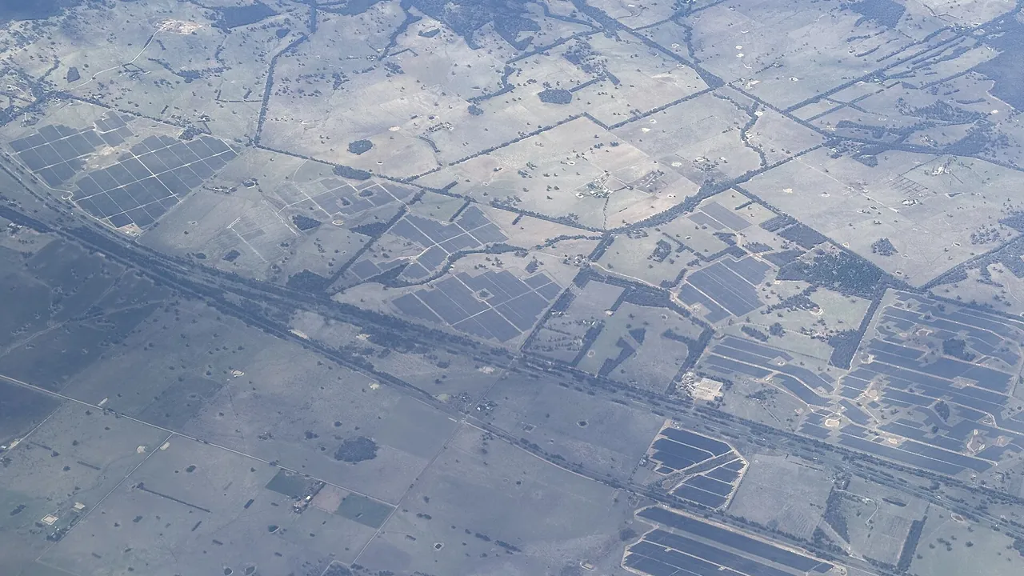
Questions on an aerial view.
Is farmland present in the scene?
Yes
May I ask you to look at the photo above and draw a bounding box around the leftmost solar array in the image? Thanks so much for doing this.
[9,110,241,227]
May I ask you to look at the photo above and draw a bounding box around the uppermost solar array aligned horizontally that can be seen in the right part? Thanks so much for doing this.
[687,201,751,230]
